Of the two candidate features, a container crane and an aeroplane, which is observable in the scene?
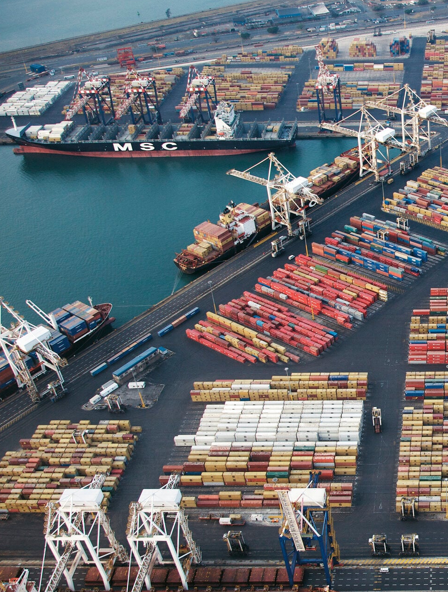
container crane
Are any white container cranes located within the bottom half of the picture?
Yes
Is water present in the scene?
Yes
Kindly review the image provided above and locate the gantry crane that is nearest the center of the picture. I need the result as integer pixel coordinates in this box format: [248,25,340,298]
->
[233,157,327,237]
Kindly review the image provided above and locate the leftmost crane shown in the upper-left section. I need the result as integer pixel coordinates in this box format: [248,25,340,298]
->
[64,67,122,130]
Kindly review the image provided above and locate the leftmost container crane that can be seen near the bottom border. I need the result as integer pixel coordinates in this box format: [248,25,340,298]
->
[33,471,125,592]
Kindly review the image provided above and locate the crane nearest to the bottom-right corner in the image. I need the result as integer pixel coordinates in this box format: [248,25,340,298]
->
[272,470,339,587]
